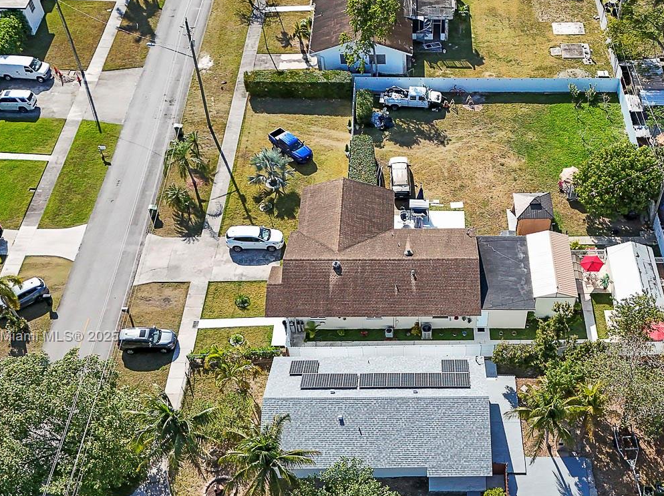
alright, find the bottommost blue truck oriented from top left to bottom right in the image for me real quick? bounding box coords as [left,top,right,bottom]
[266,125,316,164]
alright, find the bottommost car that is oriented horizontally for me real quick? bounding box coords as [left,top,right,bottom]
[109,323,184,355]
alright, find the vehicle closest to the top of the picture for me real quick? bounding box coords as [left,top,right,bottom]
[0,51,57,84]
